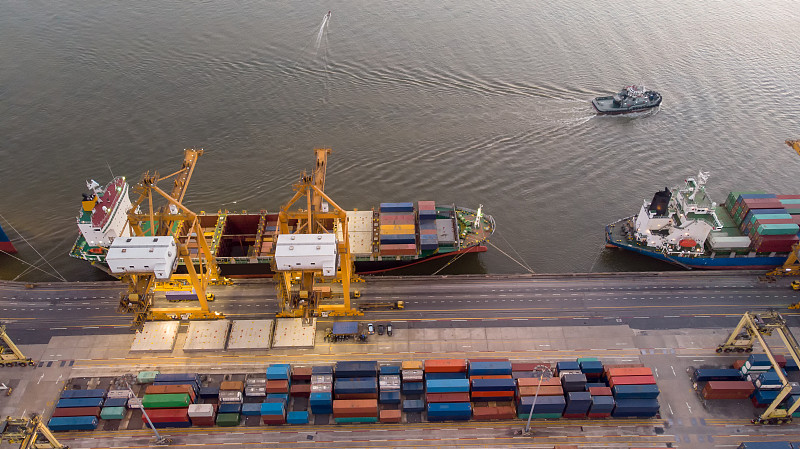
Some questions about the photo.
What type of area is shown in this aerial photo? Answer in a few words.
port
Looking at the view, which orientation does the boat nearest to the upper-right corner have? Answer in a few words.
from left to right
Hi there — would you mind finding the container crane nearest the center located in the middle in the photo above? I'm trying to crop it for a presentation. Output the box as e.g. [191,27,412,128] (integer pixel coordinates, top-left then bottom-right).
[264,147,373,325]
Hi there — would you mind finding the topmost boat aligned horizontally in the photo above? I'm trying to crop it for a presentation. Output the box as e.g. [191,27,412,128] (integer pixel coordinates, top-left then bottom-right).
[590,80,663,113]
